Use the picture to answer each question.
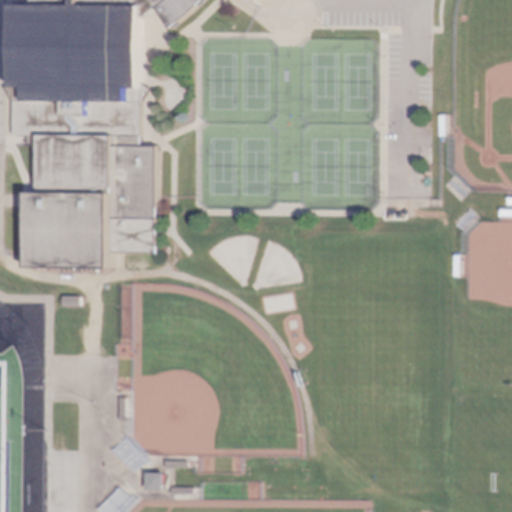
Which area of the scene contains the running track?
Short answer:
bottom left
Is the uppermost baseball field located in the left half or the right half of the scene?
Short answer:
right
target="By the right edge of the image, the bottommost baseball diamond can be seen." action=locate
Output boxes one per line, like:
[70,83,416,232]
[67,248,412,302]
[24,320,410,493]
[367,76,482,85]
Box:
[462,221,512,308]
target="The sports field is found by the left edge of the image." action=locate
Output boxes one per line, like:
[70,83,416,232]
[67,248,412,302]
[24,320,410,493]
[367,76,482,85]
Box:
[0,347,22,512]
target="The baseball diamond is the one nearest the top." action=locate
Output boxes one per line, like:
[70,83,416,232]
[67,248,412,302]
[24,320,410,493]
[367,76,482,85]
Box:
[448,62,512,190]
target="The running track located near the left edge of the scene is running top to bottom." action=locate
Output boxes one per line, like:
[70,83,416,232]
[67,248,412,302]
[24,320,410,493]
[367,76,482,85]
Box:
[0,304,48,512]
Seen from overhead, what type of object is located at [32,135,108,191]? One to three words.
building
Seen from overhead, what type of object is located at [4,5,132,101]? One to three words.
building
